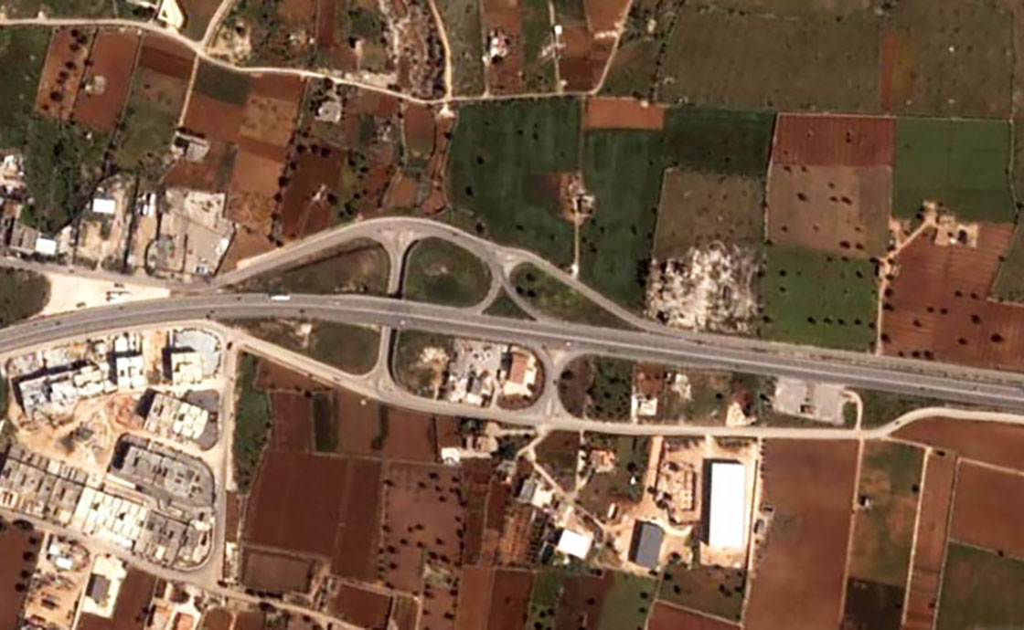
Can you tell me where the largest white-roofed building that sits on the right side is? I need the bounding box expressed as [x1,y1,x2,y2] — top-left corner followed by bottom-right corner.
[710,463,745,549]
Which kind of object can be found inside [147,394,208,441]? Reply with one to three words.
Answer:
building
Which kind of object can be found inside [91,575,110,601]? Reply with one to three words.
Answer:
house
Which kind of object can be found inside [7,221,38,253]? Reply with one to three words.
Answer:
shed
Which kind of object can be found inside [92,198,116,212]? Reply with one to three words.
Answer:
shed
